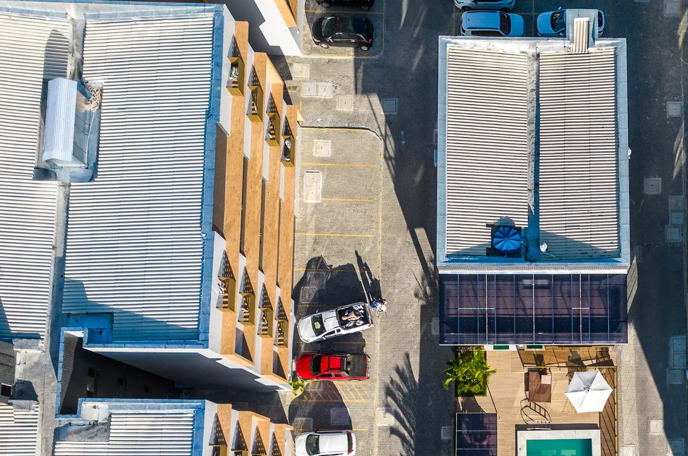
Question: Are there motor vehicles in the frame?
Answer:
Yes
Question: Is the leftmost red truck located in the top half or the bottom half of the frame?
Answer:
bottom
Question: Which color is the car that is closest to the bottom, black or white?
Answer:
white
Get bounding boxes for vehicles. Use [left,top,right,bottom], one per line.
[296,349,372,383]
[462,8,524,39]
[455,0,516,13]
[298,304,375,343]
[296,429,357,456]
[313,16,374,50]
[316,0,377,10]
[541,8,603,39]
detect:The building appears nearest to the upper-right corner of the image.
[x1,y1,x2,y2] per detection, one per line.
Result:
[436,14,629,275]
